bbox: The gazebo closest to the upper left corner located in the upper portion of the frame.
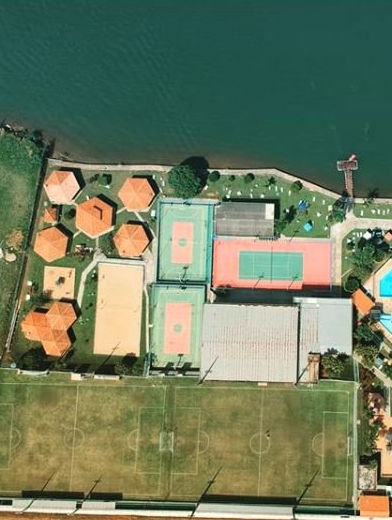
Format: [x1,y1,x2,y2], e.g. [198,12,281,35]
[46,171,84,205]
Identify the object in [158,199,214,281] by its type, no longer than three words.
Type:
sports court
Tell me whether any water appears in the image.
Yes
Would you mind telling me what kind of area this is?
sports ground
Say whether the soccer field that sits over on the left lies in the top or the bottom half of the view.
bottom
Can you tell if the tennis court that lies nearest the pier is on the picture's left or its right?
right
